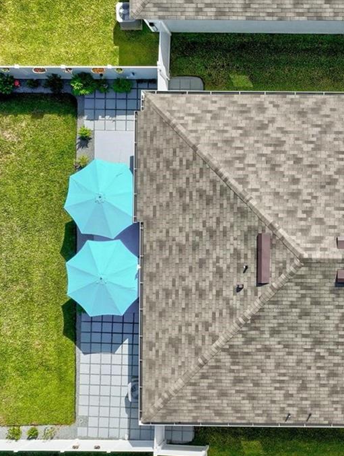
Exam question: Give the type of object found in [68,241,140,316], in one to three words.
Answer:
umbrella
